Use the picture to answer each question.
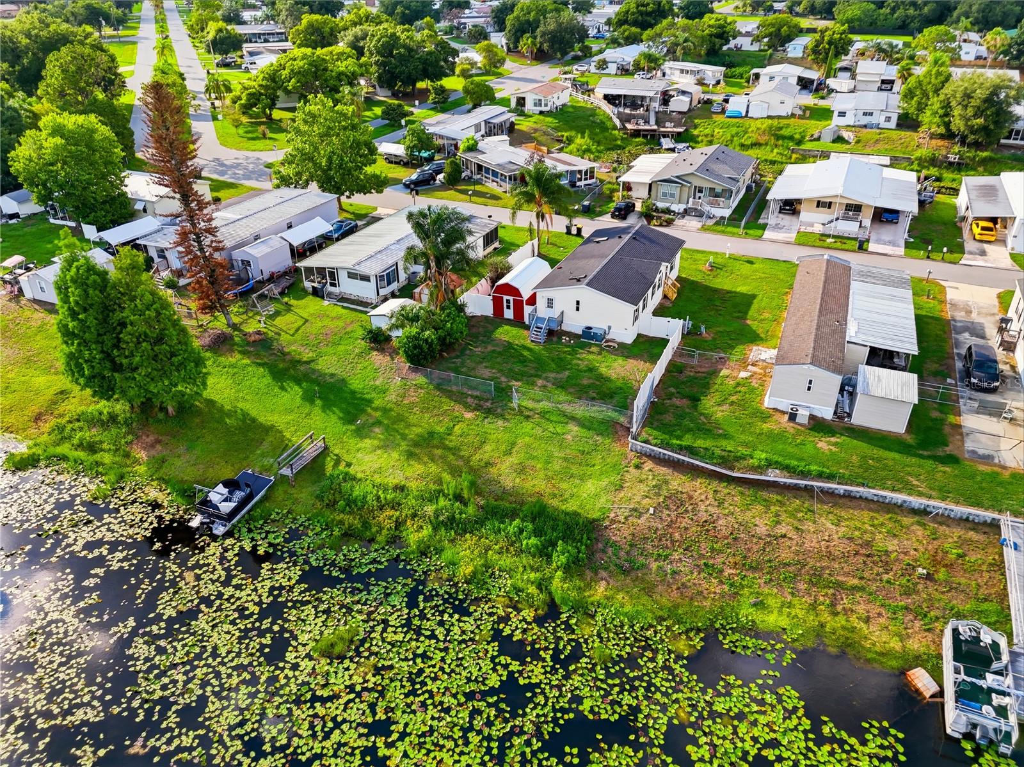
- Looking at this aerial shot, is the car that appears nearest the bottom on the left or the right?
right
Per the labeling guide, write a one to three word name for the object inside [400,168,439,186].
car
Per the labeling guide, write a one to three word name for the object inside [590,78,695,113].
house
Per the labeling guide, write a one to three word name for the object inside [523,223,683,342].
house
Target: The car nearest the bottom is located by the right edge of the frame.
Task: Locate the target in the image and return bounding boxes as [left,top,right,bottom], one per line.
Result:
[959,339,1004,387]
